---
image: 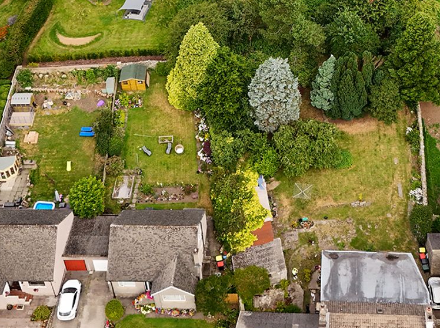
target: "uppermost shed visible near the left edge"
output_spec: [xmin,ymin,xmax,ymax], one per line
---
[6,93,36,134]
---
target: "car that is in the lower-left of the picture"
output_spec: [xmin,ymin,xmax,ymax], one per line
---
[55,282,83,325]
